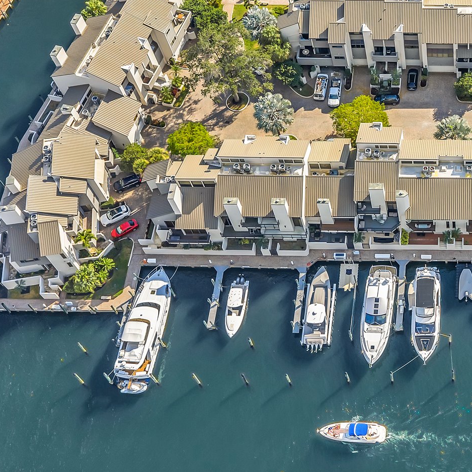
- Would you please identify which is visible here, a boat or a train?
boat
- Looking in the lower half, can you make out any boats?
Yes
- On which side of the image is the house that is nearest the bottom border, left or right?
left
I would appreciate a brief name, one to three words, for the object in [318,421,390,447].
boat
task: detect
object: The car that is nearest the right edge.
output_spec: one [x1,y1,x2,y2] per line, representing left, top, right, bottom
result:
[407,68,419,91]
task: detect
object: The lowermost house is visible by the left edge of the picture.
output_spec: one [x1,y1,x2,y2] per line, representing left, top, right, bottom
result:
[8,214,78,279]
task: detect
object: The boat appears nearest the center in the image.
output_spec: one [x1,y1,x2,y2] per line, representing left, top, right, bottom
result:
[226,277,250,338]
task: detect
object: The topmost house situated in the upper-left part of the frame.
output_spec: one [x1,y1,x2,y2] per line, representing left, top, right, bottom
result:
[50,0,191,105]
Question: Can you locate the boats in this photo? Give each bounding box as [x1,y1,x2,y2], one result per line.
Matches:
[118,382,147,395]
[306,265,329,351]
[407,267,442,366]
[362,266,396,367]
[318,421,390,447]
[114,264,166,389]
[226,277,250,338]
[460,268,472,306]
